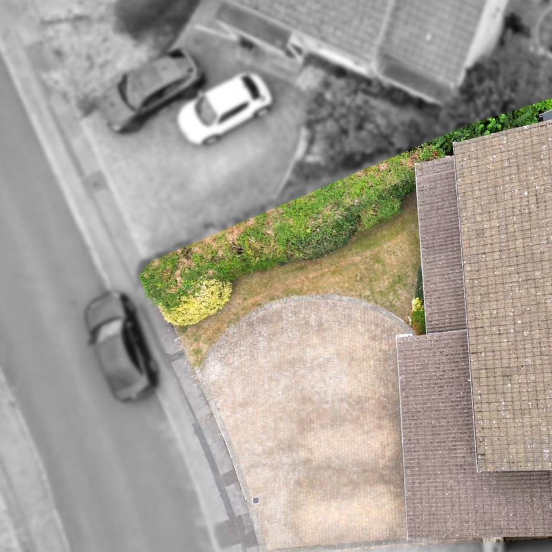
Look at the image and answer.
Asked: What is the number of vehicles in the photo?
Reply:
3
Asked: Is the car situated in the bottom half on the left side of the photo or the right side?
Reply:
left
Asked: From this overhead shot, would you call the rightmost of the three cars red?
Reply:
No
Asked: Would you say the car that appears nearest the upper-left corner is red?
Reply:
No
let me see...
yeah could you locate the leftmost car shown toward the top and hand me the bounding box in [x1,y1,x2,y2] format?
[104,45,207,134]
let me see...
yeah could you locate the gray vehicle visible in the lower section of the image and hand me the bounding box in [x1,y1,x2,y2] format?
[87,291,162,403]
